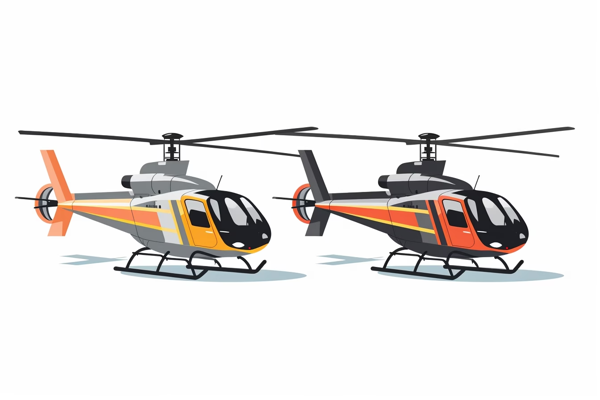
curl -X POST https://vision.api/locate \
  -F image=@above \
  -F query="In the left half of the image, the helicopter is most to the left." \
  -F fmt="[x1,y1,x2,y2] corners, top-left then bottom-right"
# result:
[18,127,319,281]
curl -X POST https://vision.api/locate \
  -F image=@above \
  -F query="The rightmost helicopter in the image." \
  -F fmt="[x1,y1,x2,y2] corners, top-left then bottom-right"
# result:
[275,128,577,281]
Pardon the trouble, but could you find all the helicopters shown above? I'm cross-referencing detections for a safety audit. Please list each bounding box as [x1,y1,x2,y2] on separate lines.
[18,127,319,281]
[275,128,577,281]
